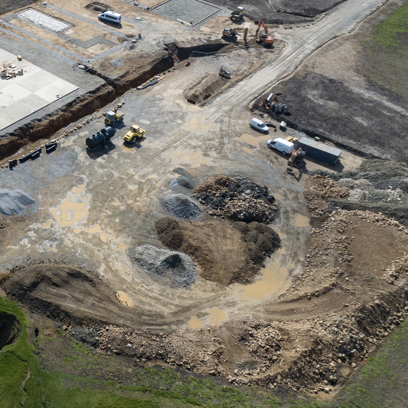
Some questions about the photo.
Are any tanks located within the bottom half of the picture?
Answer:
No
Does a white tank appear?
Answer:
No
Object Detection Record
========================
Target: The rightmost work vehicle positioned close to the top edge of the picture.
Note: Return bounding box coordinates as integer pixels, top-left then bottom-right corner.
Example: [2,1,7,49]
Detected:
[251,8,279,48]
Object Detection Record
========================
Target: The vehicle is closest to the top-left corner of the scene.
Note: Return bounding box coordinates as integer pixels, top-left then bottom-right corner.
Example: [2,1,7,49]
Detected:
[99,8,126,22]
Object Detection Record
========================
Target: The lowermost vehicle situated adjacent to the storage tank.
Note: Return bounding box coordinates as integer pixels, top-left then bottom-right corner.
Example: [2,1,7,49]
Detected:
[122,124,151,144]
